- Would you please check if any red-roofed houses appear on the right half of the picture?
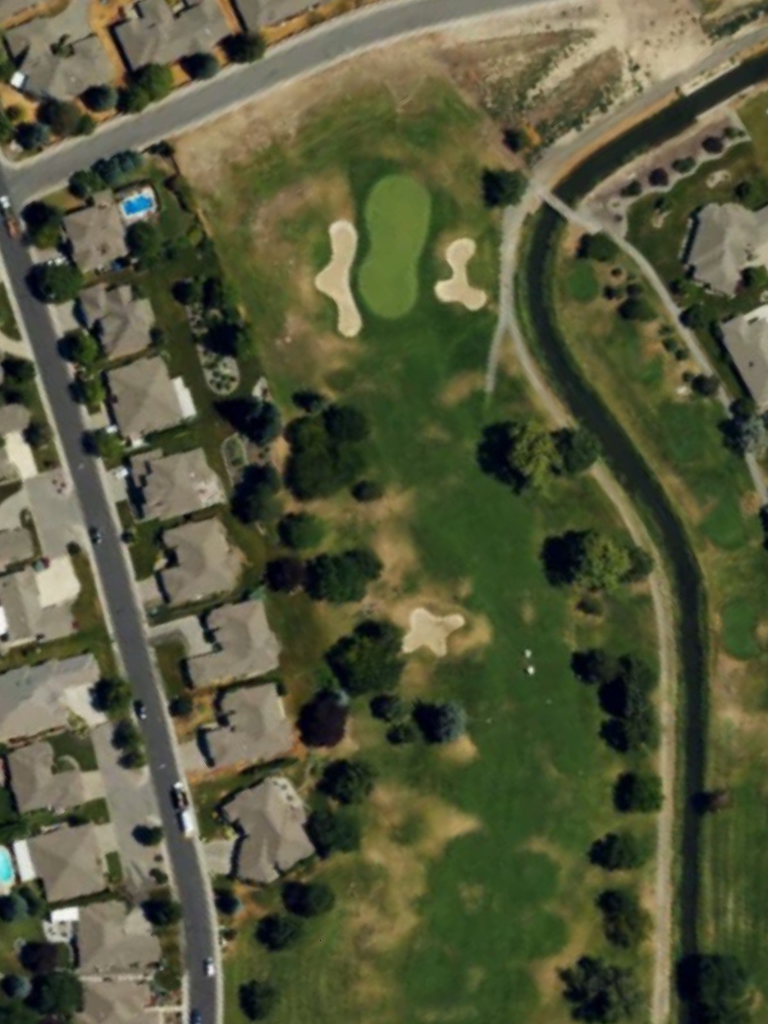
No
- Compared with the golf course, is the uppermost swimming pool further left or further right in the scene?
left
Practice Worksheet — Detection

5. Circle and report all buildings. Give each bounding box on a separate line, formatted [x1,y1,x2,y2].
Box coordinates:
[78,979,152,1024]
[0,566,80,650]
[0,494,36,565]
[156,518,244,602]
[0,26,119,101]
[185,602,280,687]
[244,0,328,28]
[199,684,292,767]
[105,357,193,442]
[0,649,102,741]
[129,446,223,521]
[13,822,108,904]
[722,296,768,414]
[50,902,162,976]
[117,0,231,71]
[1,743,86,815]
[0,398,31,474]
[221,781,316,885]
[64,185,128,273]
[78,278,157,361]
[685,200,768,300]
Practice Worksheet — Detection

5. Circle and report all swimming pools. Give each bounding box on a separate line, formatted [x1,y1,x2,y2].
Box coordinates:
[0,840,18,893]
[119,190,158,220]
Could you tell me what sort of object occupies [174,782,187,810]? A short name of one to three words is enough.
vehicle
